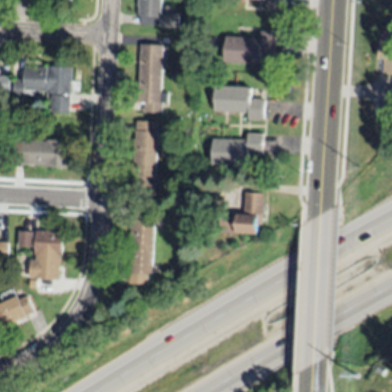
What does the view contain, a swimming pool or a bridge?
bridge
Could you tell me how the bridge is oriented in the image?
up and down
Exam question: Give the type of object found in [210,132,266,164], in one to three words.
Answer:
house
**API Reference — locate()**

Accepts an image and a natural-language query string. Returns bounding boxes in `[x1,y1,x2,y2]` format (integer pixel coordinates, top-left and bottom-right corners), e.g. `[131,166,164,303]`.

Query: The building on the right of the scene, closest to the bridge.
[234,192,264,234]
